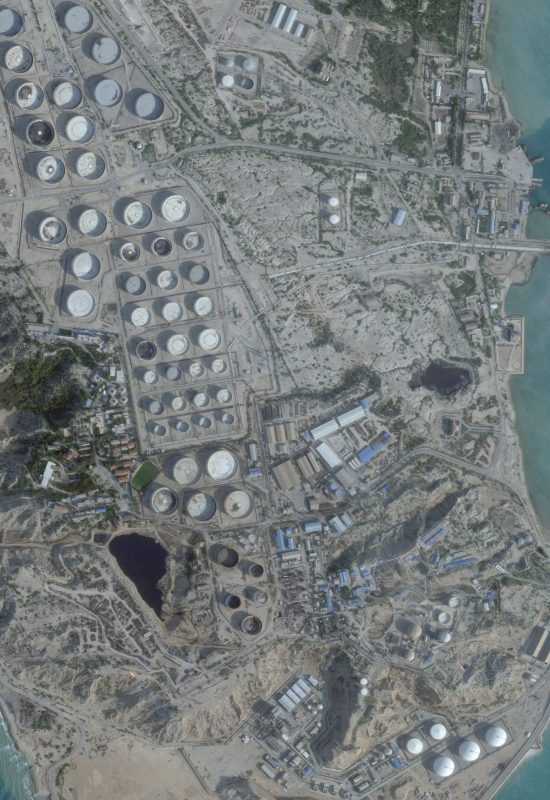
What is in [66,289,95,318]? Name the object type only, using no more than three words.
storage tank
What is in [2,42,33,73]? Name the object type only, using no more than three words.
storage tank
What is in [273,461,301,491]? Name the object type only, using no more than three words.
building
